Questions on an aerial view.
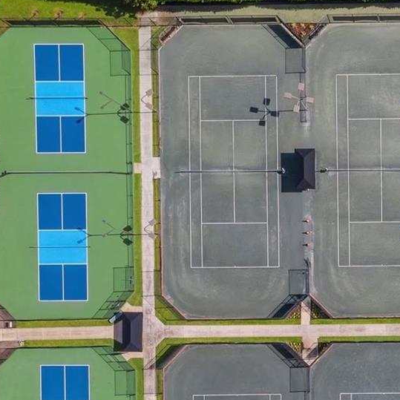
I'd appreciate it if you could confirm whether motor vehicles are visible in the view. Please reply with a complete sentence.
No, the scene contains no motor vehicle.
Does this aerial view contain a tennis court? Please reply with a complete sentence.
Yes, the frame does contain a tennis court.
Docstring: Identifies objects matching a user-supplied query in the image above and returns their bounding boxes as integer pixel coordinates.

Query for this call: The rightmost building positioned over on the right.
[294,148,315,190]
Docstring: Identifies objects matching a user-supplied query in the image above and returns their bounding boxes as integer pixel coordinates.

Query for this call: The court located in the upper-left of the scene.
[0,26,132,172]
